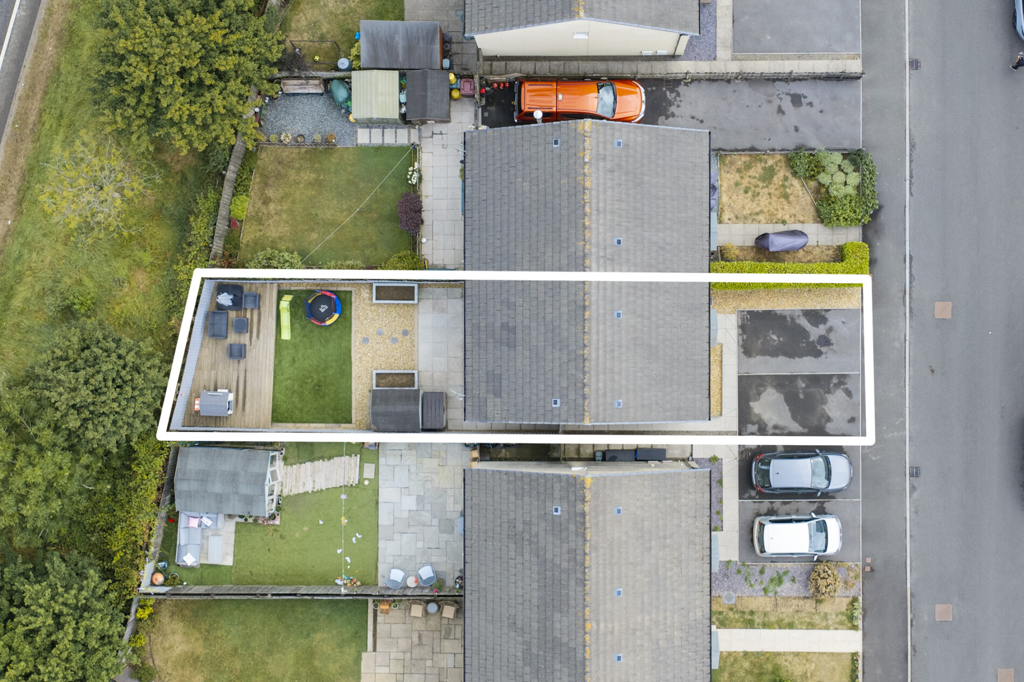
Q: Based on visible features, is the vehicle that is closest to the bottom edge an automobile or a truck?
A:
automobile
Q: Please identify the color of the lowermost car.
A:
white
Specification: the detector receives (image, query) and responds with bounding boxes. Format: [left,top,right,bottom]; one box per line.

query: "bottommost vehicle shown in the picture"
[751,512,841,563]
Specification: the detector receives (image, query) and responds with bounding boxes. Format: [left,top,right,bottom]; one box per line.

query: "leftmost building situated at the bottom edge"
[461,460,719,682]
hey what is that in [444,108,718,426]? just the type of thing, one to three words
house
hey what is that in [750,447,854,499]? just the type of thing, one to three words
car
